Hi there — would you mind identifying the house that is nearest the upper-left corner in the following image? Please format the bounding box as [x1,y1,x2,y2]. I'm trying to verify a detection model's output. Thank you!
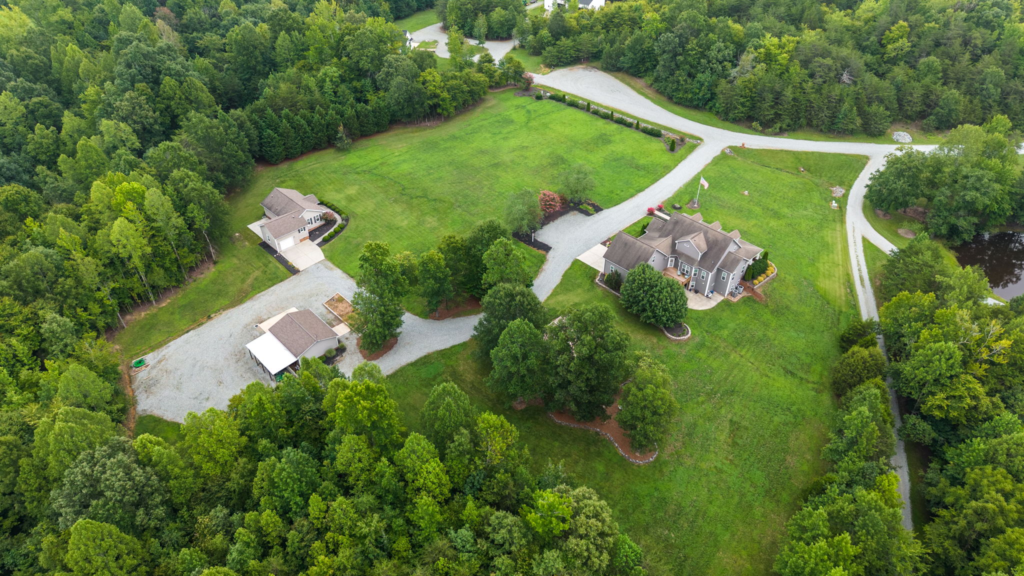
[259,186,326,252]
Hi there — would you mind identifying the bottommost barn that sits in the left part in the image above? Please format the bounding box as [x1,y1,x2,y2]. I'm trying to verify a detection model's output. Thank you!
[245,309,339,377]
